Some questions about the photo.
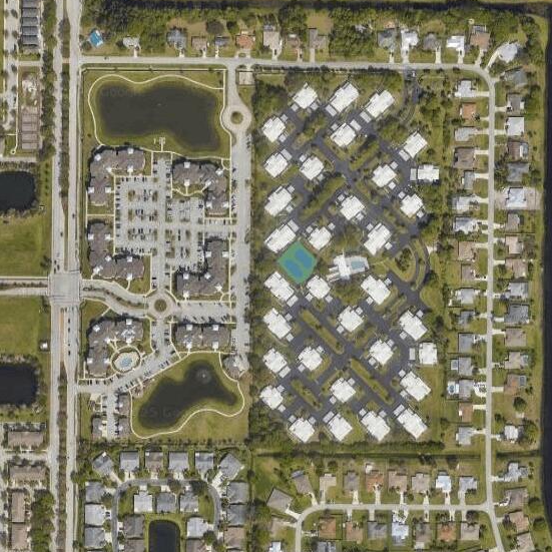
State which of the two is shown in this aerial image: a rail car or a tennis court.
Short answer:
tennis court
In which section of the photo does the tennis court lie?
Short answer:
center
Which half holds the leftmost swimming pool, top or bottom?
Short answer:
bottom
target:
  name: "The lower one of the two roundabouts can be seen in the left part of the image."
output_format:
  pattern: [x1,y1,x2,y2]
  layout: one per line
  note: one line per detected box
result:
[147,291,176,320]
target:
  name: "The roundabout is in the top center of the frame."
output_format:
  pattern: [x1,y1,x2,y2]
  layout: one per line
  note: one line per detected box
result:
[223,104,251,132]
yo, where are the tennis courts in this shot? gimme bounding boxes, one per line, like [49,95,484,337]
[277,241,317,284]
